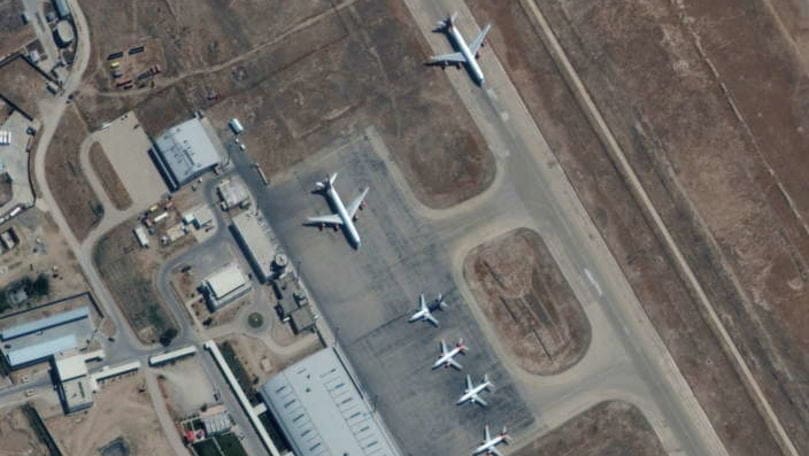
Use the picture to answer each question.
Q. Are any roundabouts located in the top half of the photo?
No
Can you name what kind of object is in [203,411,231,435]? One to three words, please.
house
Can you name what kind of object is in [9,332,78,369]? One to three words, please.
building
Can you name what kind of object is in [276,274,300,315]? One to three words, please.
building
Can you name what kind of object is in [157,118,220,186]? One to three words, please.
hangar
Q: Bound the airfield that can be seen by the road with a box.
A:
[226,0,726,456]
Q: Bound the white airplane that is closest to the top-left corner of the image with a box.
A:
[307,176,371,247]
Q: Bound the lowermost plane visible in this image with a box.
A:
[472,428,509,456]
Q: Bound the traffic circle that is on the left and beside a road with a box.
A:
[240,305,271,335]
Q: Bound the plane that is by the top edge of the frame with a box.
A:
[431,13,493,82]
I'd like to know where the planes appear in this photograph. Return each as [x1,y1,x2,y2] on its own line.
[307,176,371,247]
[472,428,509,456]
[431,13,493,82]
[408,293,446,325]
[433,339,469,369]
[457,376,493,406]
